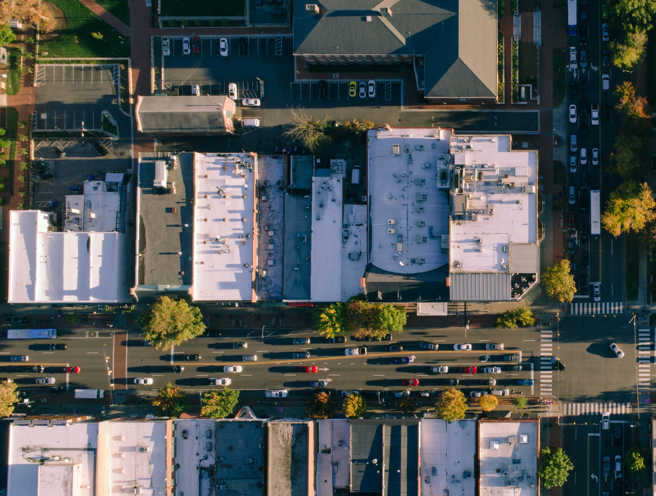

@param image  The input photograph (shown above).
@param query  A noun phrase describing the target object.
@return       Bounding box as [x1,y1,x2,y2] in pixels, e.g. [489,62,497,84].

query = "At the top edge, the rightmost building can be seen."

[294,0,500,103]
